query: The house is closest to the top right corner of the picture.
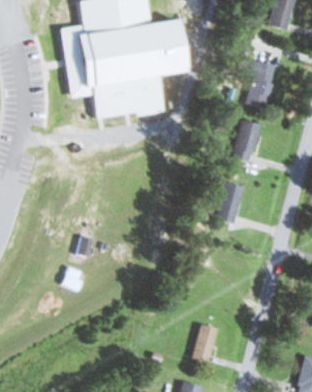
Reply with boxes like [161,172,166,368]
[270,0,297,30]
